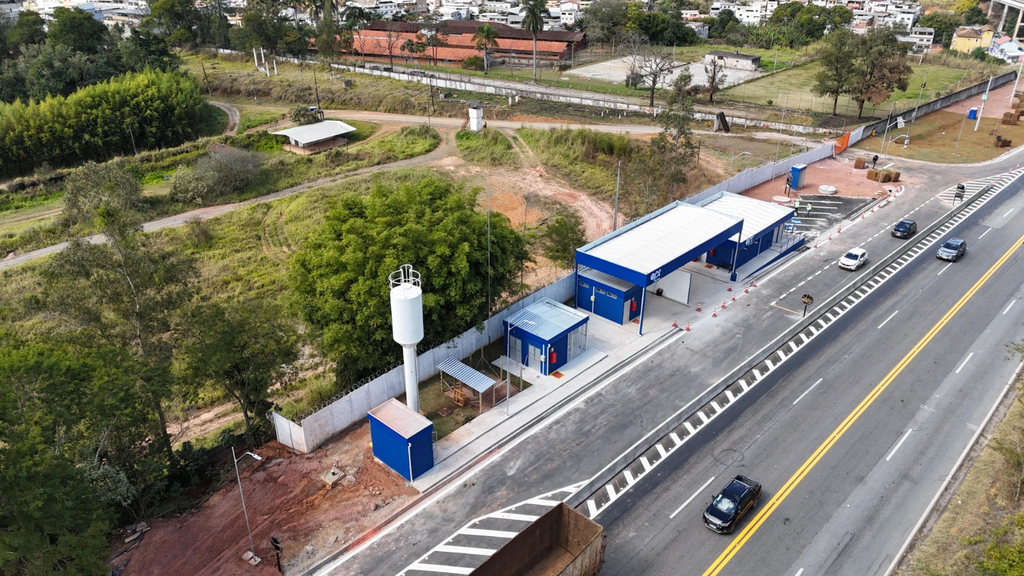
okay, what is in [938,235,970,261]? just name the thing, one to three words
car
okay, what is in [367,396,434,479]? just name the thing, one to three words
shed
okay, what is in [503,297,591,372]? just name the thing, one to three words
shed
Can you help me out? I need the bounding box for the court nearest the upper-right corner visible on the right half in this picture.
[643,62,750,91]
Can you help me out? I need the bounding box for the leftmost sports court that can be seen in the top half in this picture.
[566,56,687,86]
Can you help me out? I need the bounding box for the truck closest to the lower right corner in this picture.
[703,471,768,531]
